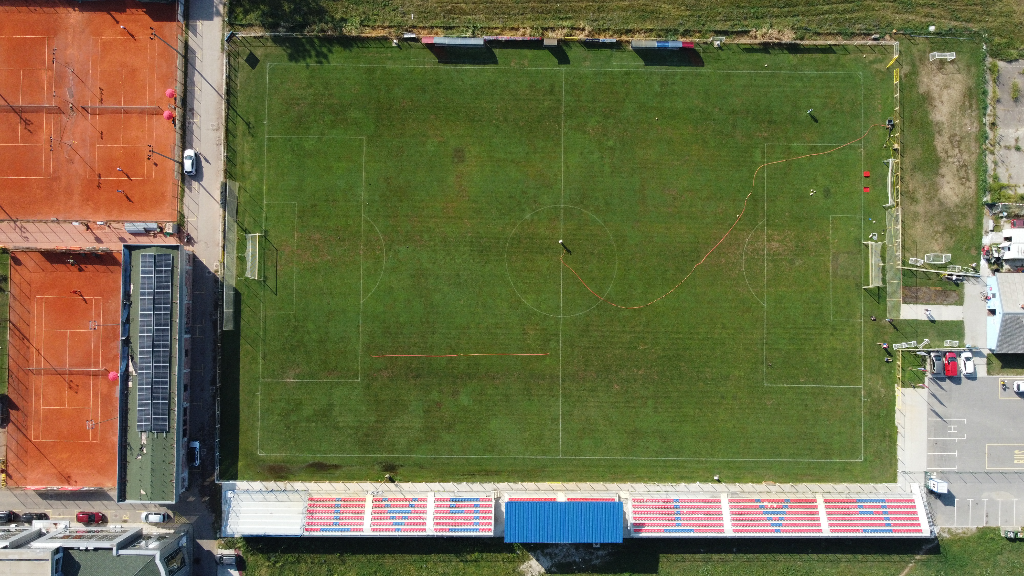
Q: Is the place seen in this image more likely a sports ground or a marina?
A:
sports ground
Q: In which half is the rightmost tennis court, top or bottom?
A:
top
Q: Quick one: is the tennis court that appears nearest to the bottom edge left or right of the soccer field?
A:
on its left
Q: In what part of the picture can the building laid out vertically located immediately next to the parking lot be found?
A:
right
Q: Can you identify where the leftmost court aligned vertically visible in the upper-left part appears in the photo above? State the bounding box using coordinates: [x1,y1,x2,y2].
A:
[0,0,70,221]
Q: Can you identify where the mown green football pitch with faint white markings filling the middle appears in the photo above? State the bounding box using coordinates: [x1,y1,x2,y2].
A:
[218,36,898,483]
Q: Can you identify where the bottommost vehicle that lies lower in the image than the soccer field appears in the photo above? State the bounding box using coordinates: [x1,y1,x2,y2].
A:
[215,552,239,567]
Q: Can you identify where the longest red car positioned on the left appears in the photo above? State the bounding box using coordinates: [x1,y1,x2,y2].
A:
[75,510,105,525]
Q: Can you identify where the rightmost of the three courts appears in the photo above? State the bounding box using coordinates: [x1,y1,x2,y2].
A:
[67,0,178,223]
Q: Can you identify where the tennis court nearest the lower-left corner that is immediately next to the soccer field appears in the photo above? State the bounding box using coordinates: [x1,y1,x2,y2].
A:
[6,251,123,487]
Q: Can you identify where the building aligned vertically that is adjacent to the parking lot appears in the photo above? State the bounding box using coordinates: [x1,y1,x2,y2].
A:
[985,272,1024,354]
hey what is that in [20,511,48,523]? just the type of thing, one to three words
vehicle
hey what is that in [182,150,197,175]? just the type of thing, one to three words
car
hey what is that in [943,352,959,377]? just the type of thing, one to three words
car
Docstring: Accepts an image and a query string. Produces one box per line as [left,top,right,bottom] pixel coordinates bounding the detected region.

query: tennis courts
[0,0,70,221]
[6,251,123,487]
[67,0,178,223]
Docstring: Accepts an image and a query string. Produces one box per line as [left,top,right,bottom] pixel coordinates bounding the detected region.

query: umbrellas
[108,370,120,382]
[163,110,176,121]
[165,88,177,100]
